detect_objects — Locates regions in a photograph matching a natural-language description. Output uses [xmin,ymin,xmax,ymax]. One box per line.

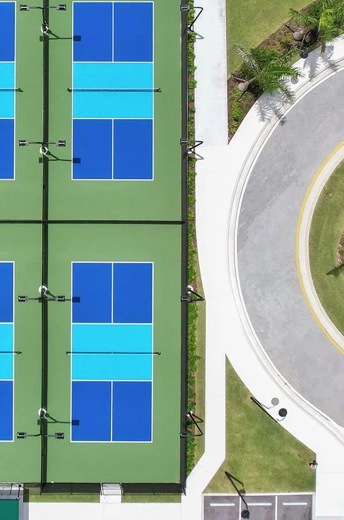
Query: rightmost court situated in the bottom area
[42,222,181,482]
